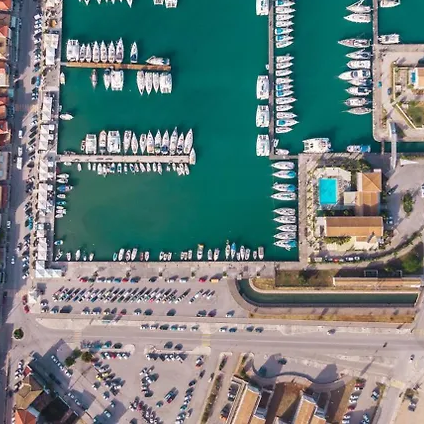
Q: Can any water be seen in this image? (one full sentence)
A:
Yes, some water is visible.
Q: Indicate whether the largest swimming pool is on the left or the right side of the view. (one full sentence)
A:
You can find the largest swimming pool on the right side of the picture.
